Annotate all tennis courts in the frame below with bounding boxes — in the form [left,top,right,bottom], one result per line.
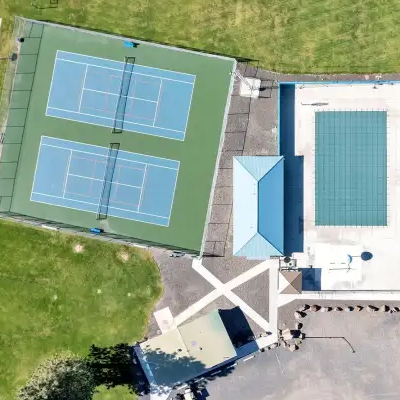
[45,51,195,140]
[30,136,180,226]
